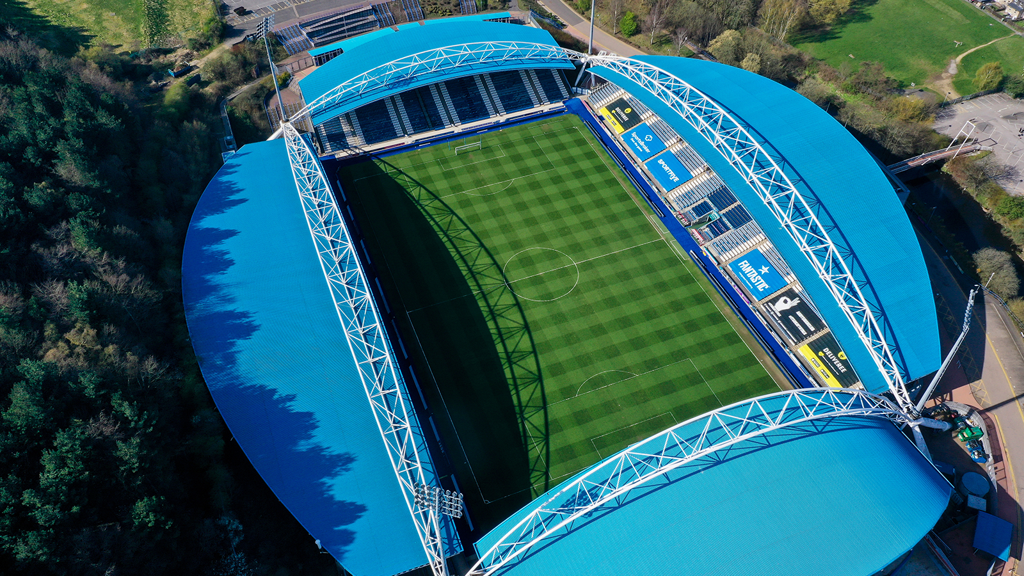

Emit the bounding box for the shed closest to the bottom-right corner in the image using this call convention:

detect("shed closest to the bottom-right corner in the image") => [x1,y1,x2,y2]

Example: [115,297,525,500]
[968,512,1013,566]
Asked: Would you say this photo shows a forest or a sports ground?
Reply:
sports ground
